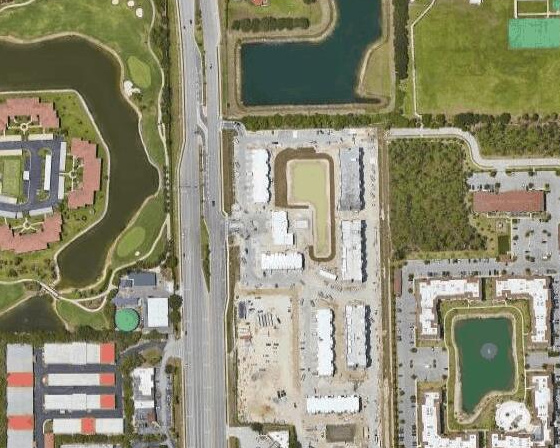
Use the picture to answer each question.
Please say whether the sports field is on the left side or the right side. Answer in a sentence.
You can find the sports field on the right side of the picture.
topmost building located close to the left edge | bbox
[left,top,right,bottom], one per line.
[0,98,59,131]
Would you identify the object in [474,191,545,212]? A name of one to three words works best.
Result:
building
